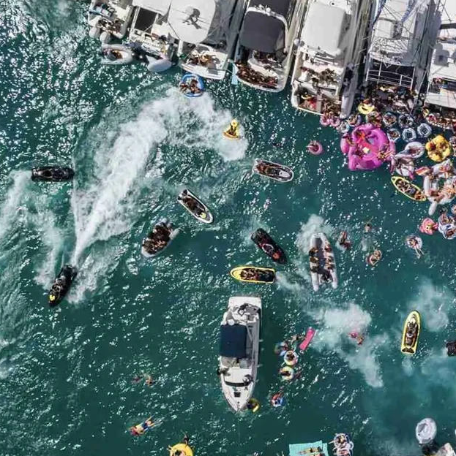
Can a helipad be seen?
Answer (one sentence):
No, there is no helipad in the image.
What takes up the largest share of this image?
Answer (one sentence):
Most of the picture is covered by water.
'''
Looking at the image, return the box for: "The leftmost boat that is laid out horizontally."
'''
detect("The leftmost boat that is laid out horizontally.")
[30,166,73,182]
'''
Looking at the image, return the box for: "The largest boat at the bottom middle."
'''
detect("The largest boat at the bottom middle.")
[218,290,271,416]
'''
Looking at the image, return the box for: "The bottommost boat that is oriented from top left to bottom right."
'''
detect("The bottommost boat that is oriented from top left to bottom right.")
[249,225,282,263]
